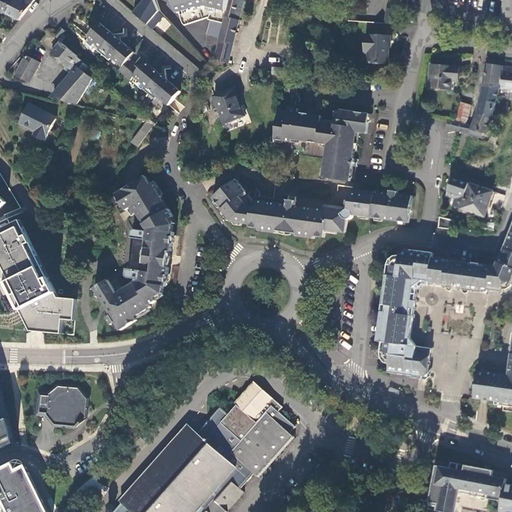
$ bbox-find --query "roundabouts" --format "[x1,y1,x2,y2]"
[226,248,302,334]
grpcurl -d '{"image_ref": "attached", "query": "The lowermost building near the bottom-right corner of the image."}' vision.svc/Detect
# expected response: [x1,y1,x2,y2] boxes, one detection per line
[428,460,512,512]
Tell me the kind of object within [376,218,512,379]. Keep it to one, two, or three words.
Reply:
building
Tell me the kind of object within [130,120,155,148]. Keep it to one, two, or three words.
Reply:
shed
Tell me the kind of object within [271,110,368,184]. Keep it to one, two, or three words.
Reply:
house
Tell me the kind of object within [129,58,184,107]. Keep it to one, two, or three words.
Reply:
house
